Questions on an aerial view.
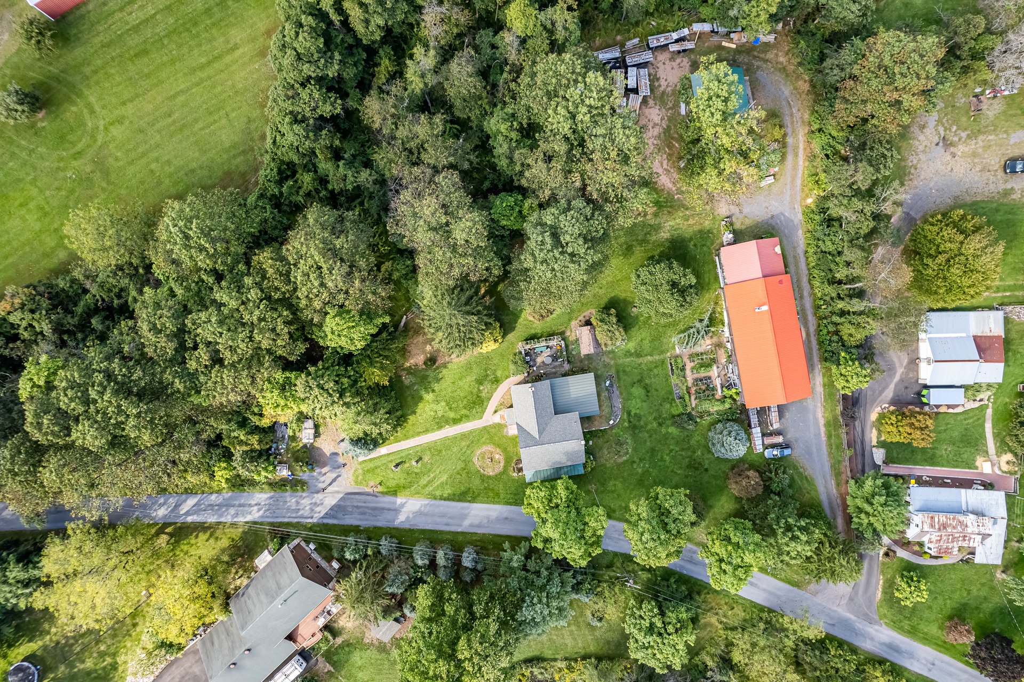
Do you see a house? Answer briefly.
Yes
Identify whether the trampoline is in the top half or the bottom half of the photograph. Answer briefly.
bottom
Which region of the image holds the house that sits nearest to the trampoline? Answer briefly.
bottom left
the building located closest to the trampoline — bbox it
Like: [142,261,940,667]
[198,543,334,682]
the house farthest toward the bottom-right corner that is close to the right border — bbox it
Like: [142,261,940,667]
[902,486,1007,565]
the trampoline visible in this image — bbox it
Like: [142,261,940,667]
[8,661,41,682]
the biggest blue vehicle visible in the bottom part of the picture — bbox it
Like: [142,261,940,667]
[766,448,793,460]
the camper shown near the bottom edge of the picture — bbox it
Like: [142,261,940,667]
[269,650,310,682]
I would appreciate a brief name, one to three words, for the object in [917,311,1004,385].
building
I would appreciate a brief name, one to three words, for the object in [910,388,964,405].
trailer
